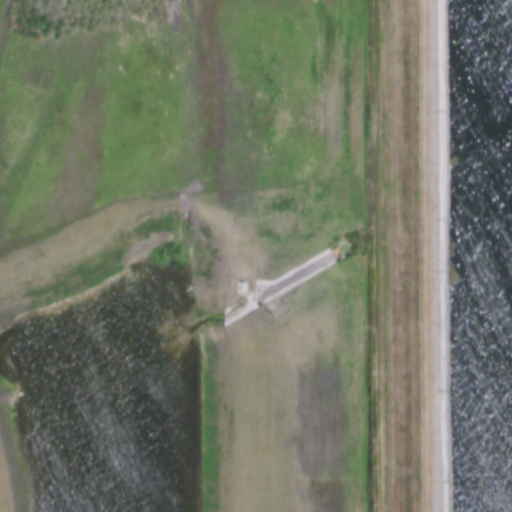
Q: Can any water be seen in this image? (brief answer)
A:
Yes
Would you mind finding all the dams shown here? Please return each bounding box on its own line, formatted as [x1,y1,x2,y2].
[374,0,452,512]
